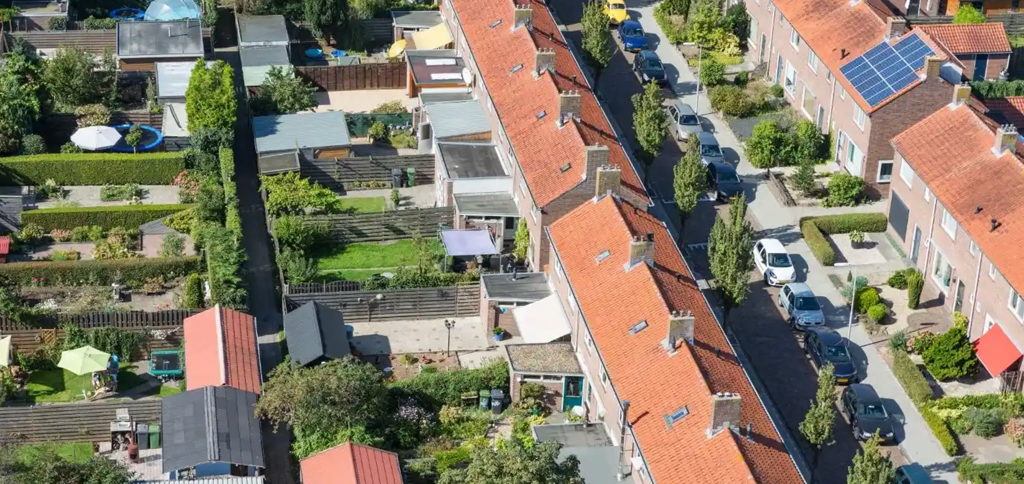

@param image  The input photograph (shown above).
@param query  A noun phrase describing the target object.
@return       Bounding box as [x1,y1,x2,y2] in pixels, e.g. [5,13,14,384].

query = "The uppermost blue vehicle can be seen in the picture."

[613,19,645,52]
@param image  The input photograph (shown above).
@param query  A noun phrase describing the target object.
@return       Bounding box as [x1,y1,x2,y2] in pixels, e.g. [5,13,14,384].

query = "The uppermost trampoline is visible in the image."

[108,7,145,22]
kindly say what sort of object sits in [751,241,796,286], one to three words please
car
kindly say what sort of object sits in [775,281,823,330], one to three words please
car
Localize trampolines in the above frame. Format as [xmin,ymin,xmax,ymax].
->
[146,351,179,387]
[108,7,145,22]
[111,126,163,154]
